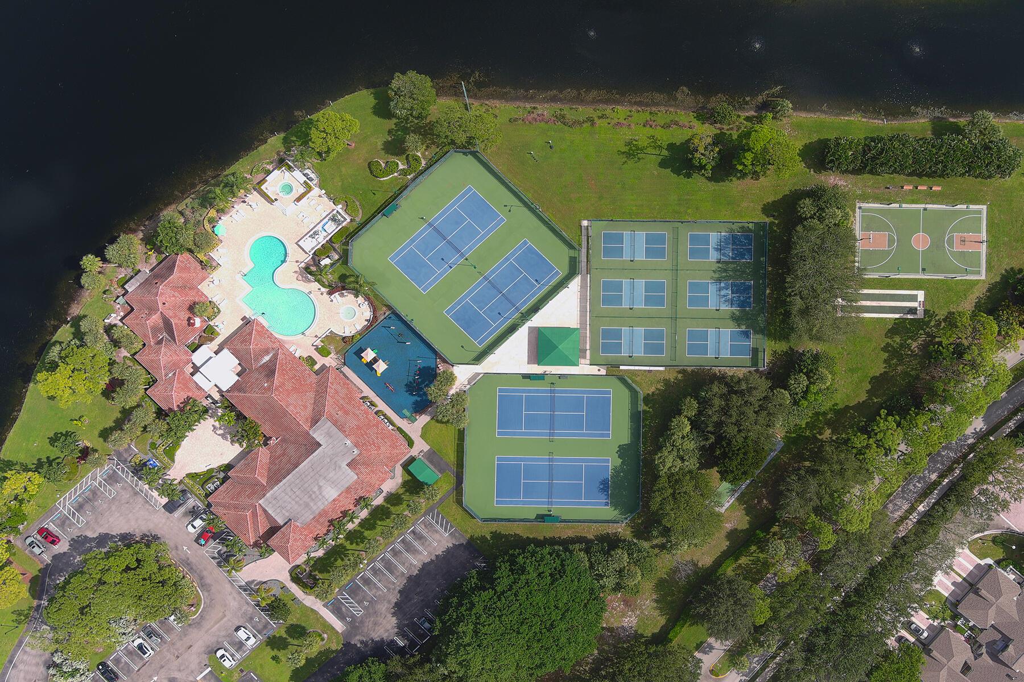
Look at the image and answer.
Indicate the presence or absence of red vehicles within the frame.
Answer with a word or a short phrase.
Yes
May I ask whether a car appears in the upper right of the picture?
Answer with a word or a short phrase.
No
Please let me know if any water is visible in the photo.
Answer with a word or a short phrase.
Yes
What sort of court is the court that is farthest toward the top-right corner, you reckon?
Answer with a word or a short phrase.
basketball court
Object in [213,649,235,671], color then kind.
white car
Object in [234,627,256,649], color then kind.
white car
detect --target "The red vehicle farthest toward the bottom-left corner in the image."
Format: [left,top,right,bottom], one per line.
[35,528,59,548]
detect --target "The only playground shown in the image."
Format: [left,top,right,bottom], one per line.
[345,312,436,419]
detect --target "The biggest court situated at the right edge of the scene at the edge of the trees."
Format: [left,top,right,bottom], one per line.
[854,203,987,279]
